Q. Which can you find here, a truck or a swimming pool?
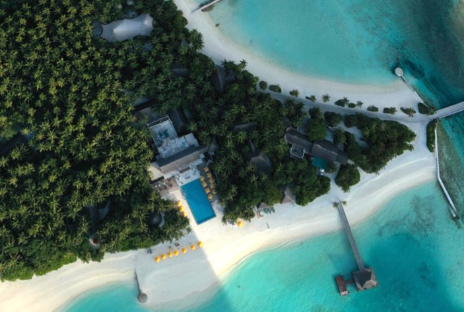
swimming pool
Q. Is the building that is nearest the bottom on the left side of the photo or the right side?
right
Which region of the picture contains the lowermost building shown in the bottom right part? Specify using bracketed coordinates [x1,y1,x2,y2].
[349,266,379,294]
